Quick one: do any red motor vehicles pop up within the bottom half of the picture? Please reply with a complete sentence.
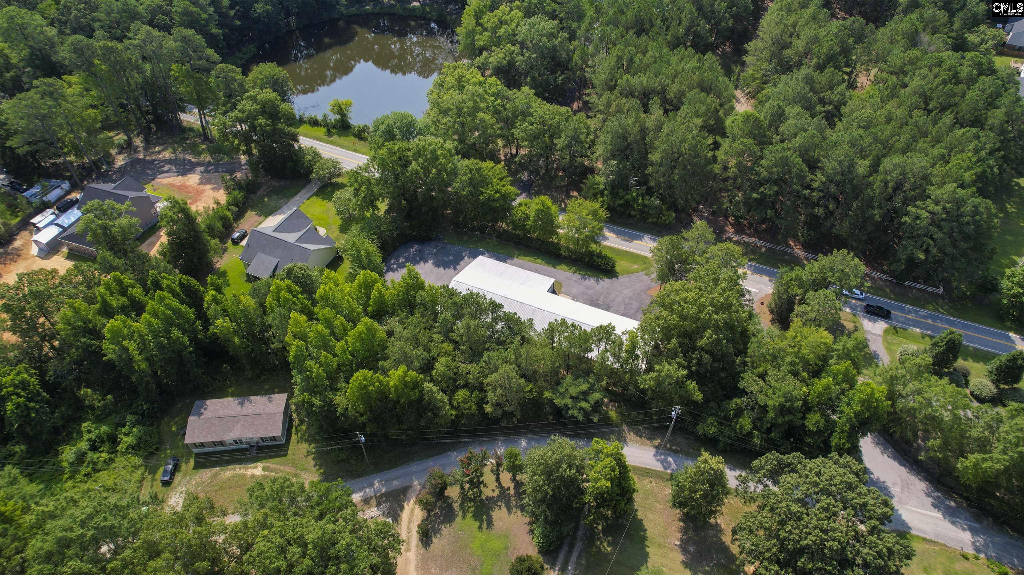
No, there is no red motor vehicle within the bottom half of the picture.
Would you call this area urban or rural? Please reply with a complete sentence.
This place is rural.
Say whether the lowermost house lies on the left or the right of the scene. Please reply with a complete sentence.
The lowermost house is on the left side of the image.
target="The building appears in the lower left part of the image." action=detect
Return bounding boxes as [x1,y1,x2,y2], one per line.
[181,395,295,454]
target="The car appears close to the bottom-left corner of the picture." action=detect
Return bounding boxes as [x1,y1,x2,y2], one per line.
[161,459,178,485]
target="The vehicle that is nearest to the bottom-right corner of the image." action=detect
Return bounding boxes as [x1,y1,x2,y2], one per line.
[862,303,893,320]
